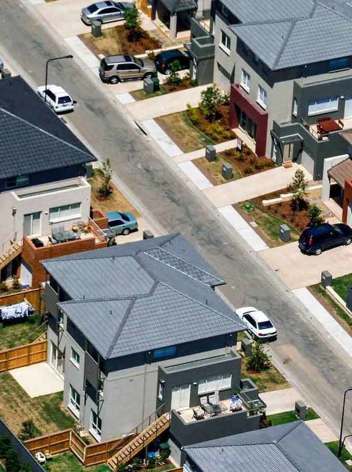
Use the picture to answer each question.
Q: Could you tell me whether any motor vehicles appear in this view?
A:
Yes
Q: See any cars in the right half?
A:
Yes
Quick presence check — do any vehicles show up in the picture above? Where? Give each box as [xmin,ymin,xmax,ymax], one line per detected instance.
[80,1,129,26]
[299,225,352,254]
[236,307,277,344]
[37,85,75,117]
[100,55,154,84]
[151,51,199,76]
[85,210,143,236]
